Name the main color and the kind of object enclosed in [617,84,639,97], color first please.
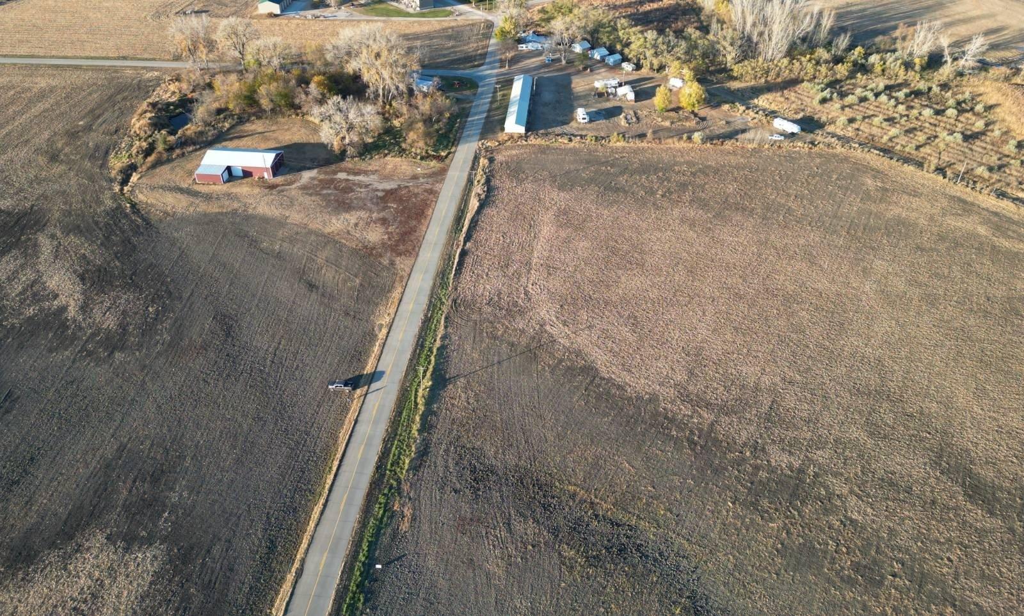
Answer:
white vehicle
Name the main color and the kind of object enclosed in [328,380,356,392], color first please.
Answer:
gray vehicle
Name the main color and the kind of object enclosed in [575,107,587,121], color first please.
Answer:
white vehicle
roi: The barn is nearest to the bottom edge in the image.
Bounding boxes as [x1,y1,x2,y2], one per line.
[193,147,296,184]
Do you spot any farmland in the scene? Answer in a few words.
Yes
